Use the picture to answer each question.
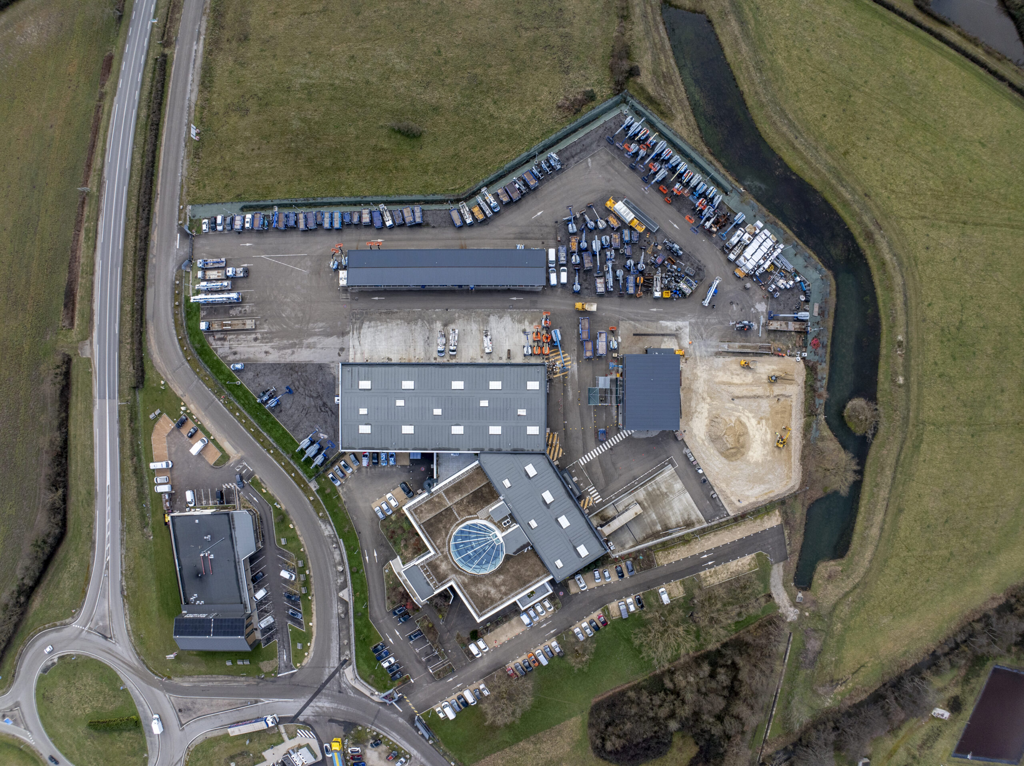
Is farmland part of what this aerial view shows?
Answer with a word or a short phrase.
Yes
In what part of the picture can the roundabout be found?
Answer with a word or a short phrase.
bottom left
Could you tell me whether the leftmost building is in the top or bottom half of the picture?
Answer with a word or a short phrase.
bottom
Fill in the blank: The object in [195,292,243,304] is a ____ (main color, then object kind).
white vehicle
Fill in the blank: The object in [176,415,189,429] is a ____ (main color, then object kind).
black vehicle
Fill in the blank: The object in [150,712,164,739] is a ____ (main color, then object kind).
white vehicle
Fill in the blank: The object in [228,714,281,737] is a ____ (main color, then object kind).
white truck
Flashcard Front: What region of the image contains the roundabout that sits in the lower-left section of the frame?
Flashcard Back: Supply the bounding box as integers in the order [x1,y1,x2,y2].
[0,598,256,766]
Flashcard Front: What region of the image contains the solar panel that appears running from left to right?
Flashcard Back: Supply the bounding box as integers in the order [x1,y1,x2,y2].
[174,619,245,636]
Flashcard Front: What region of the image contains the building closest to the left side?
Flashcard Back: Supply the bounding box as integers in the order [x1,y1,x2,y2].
[170,509,260,651]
